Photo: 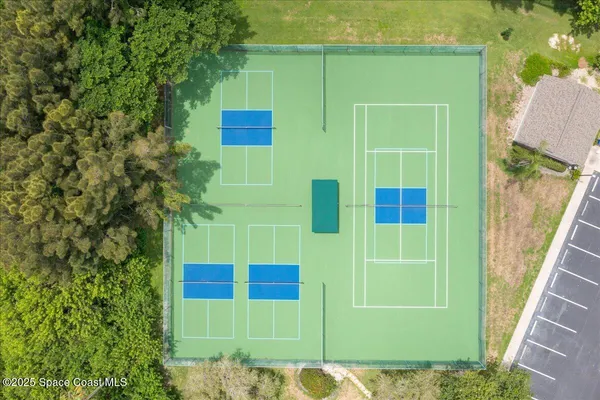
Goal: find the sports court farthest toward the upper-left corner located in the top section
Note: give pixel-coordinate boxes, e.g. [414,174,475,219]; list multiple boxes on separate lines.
[220,71,273,185]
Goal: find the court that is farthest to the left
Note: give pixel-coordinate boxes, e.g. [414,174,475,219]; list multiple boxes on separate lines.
[182,224,234,339]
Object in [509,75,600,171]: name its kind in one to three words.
building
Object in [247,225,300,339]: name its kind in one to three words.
sports court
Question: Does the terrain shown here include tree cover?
Yes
